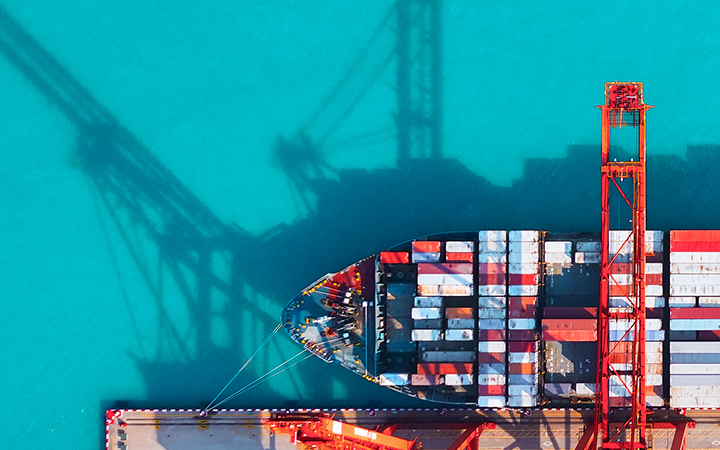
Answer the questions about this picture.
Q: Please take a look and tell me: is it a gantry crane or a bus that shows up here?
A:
gantry crane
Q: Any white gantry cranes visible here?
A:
No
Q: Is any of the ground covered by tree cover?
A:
No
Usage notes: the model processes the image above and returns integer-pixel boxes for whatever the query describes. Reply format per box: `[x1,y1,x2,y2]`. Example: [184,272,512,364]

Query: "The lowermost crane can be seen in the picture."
[256,413,494,450]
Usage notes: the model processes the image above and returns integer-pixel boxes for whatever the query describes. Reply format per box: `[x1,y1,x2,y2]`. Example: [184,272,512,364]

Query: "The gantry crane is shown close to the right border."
[567,78,699,450]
